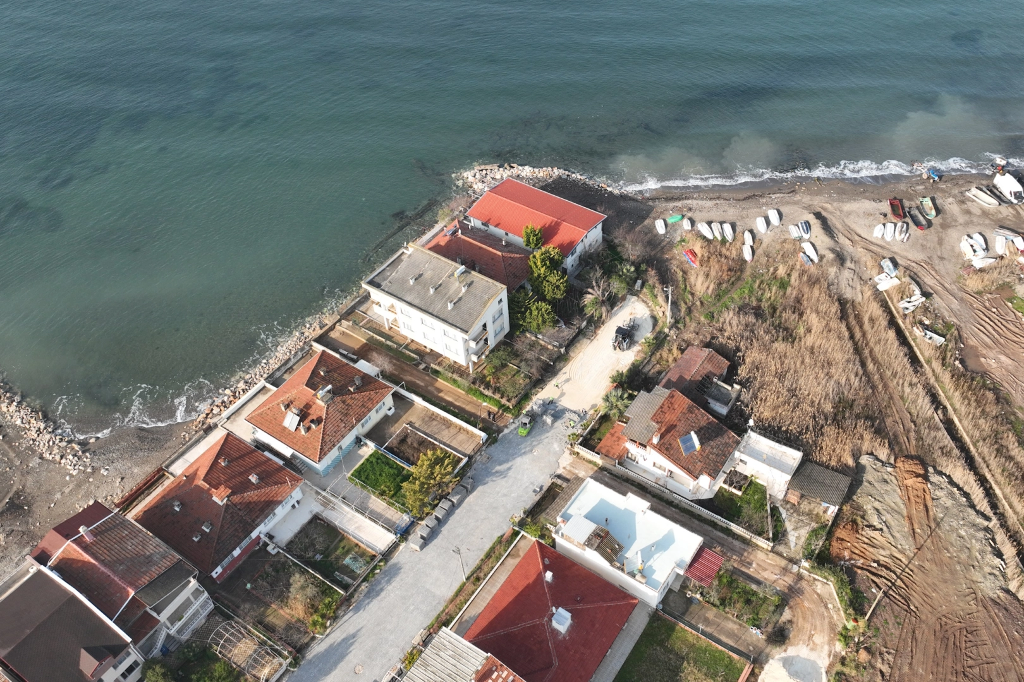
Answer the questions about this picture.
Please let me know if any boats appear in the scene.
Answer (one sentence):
Yes, the frame does contain a boat.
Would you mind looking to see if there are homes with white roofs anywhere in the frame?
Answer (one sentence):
Yes, a home with a white roof appears in the view.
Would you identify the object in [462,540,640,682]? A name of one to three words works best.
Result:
house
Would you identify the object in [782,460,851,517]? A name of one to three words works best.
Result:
shed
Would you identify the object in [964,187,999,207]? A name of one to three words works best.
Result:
boat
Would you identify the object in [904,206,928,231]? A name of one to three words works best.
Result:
boat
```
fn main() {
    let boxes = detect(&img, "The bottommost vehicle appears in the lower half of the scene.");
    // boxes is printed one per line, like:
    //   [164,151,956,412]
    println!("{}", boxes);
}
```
[515,411,534,437]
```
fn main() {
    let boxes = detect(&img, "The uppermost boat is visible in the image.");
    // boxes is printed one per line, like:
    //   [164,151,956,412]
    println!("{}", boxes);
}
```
[990,156,1012,169]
